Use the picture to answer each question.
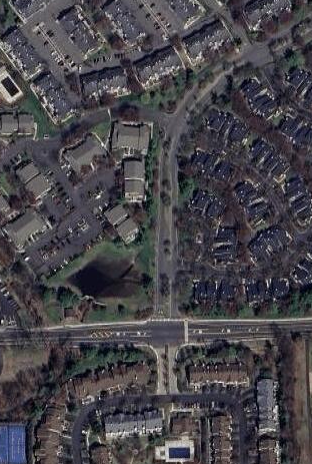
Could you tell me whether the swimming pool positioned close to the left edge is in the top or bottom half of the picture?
top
